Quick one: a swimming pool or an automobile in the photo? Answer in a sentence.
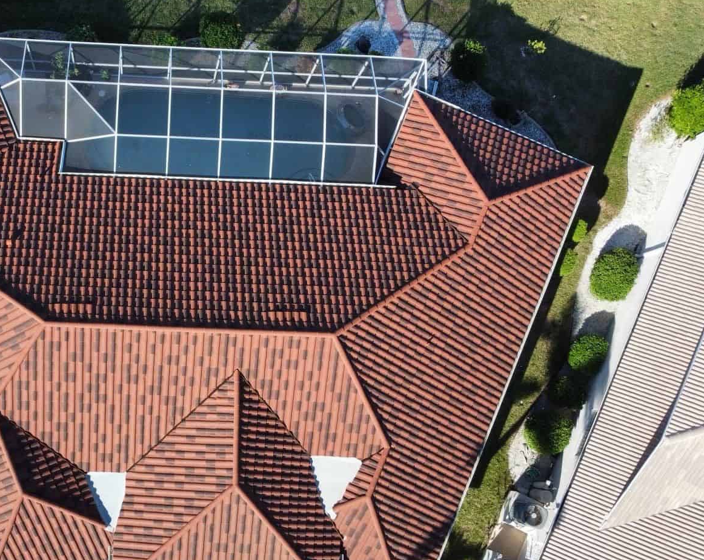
This aerial view contains a swimming pool.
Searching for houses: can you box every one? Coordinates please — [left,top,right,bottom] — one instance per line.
[531,124,704,560]
[0,88,596,560]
